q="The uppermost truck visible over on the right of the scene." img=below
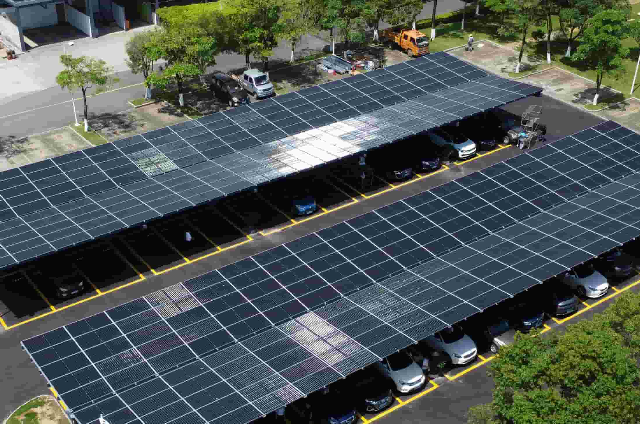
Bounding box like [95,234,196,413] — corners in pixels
[379,25,431,56]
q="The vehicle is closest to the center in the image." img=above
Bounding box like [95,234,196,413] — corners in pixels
[268,176,318,216]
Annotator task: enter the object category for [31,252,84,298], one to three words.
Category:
car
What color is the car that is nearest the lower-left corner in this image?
black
